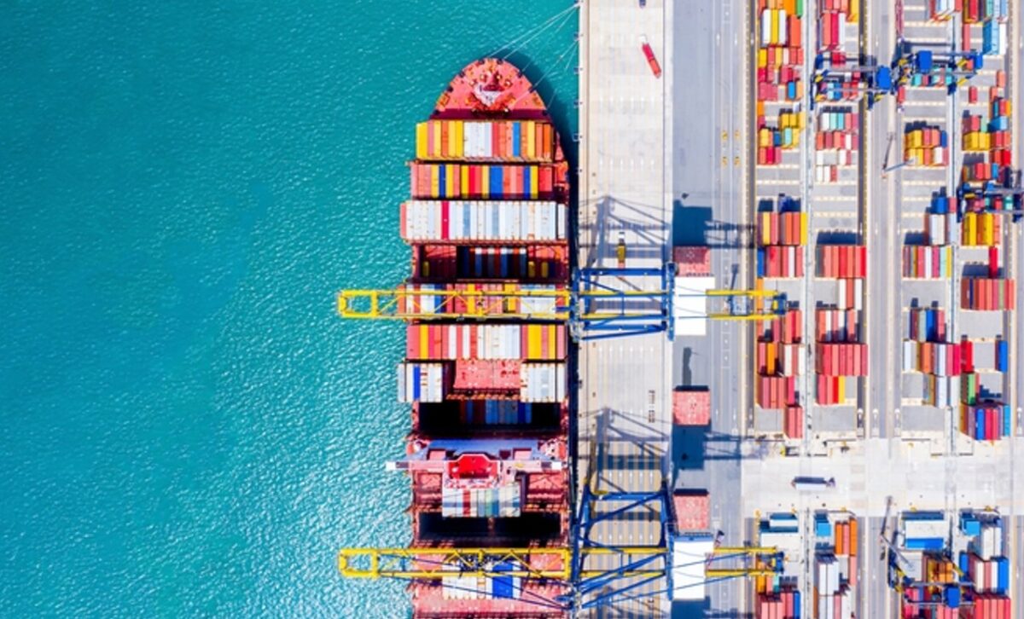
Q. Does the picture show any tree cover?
No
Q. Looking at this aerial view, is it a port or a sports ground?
port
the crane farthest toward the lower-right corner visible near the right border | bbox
[894,553,987,608]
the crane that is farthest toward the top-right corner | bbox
[894,50,988,98]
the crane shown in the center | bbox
[337,260,784,344]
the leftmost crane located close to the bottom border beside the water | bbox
[337,478,784,611]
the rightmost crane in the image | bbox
[954,188,1024,224]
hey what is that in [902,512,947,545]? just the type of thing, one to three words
shed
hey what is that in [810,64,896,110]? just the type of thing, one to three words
crane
